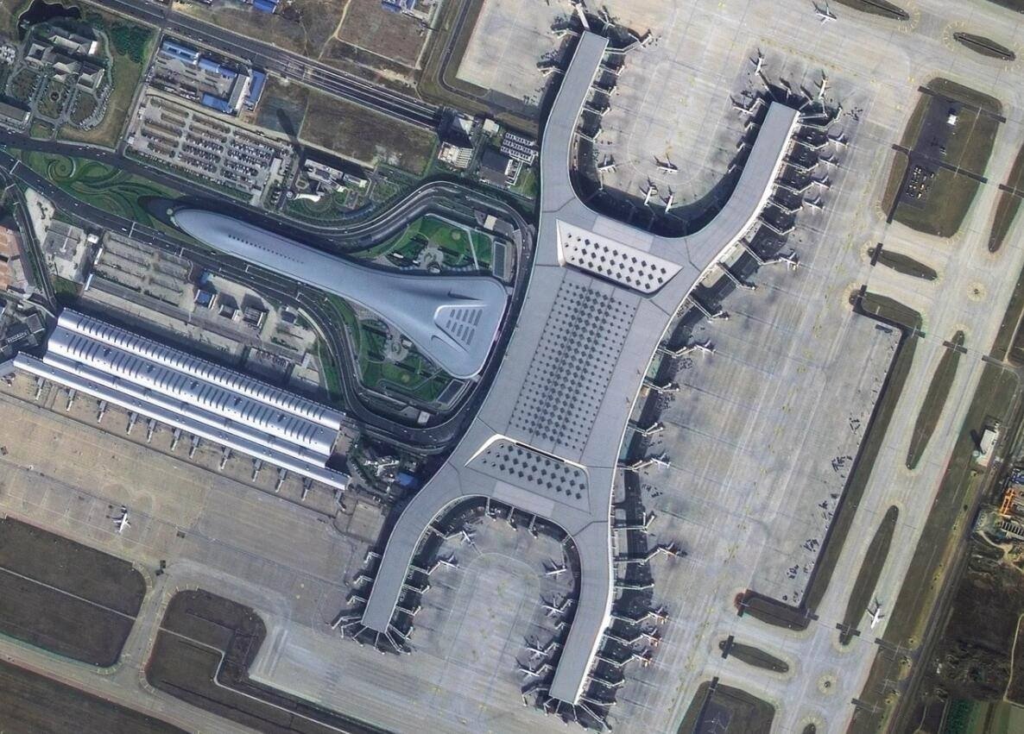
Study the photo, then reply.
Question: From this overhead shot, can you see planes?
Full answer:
Yes, there's a plane down there.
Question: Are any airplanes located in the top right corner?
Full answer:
Yes, I can see an airplane in the top right corner.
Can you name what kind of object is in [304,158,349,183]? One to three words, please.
building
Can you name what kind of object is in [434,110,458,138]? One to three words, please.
building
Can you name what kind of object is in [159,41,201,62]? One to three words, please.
shed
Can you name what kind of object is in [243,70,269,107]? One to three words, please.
shed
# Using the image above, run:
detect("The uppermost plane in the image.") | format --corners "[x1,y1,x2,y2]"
[814,3,836,23]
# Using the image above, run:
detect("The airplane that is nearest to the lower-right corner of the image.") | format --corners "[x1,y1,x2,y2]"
[867,606,886,629]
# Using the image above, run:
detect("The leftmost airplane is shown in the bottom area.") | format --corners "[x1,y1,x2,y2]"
[113,513,130,534]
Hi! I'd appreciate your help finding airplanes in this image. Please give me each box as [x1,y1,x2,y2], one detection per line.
[463,530,476,548]
[867,606,886,629]
[653,454,672,472]
[803,197,825,216]
[732,99,752,118]
[526,640,548,660]
[545,563,567,583]
[642,628,662,648]
[541,598,564,618]
[649,606,670,626]
[751,55,769,76]
[696,341,716,360]
[113,513,130,534]
[827,133,849,153]
[657,158,679,178]
[598,156,617,175]
[811,176,831,196]
[781,252,801,271]
[818,153,839,172]
[662,192,679,213]
[633,650,653,669]
[659,544,680,563]
[517,662,539,682]
[814,76,832,98]
[814,3,836,23]
[440,556,460,575]
[644,186,659,206]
